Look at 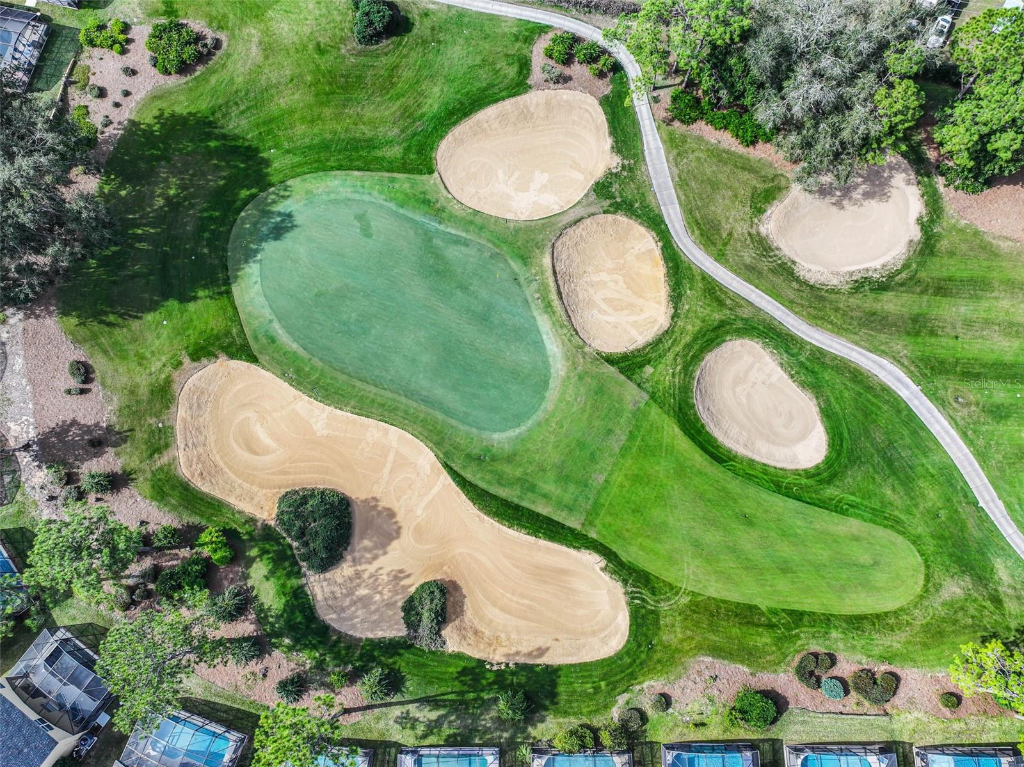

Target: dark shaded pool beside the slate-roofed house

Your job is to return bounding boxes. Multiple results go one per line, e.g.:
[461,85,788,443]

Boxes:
[20,627,113,731]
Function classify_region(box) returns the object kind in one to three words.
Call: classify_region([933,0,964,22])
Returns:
truck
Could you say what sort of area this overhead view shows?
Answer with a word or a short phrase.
golf course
